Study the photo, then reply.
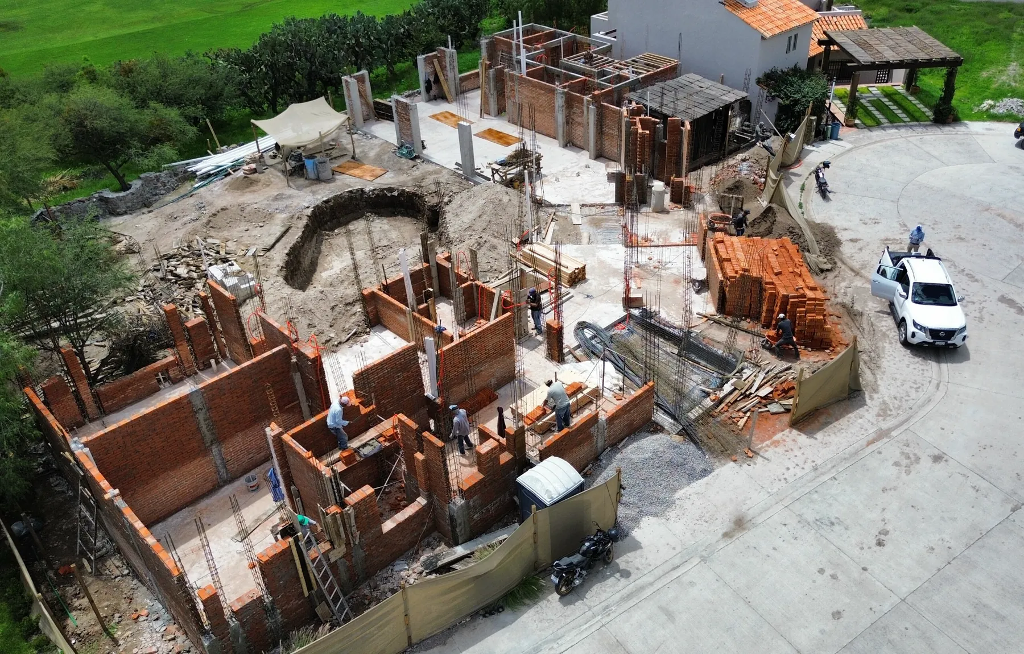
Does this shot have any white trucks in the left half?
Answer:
No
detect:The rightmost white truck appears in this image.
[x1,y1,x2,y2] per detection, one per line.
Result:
[864,247,976,352]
